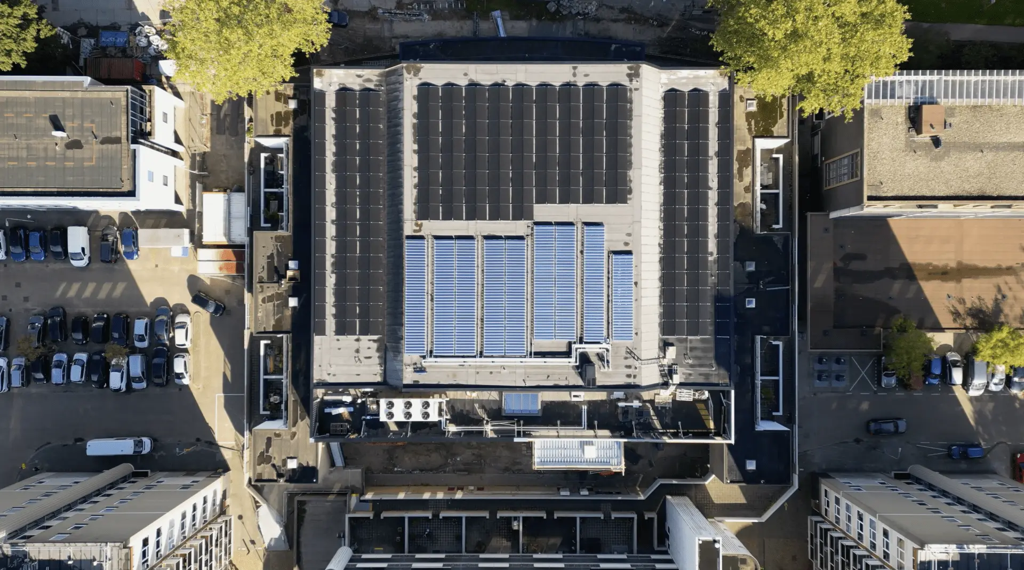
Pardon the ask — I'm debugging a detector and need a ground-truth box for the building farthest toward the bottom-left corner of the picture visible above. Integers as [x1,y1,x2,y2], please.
[0,461,237,570]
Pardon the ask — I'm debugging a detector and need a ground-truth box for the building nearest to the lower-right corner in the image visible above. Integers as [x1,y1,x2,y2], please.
[805,461,1024,570]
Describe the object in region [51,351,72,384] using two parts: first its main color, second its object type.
blue car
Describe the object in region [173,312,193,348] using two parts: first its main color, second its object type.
white car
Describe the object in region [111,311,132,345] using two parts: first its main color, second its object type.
black car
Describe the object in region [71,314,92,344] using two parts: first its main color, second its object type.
black car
